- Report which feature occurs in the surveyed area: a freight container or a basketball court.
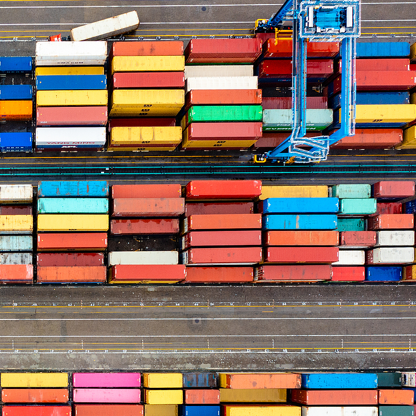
freight container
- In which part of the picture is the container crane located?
top right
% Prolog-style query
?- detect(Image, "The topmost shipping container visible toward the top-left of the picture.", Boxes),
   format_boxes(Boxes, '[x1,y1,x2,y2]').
[70,10,139,40]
